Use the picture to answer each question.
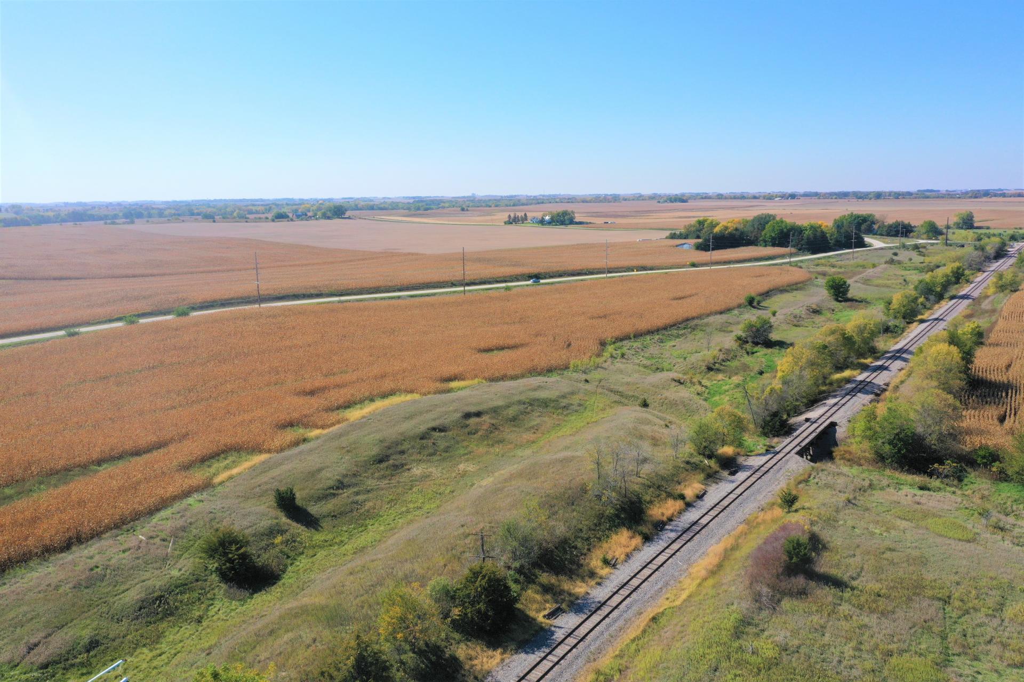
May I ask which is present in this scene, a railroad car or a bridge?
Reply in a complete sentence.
I can see a bridge in this picture.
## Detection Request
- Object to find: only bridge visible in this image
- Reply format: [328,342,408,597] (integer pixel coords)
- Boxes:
[763,415,852,467]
